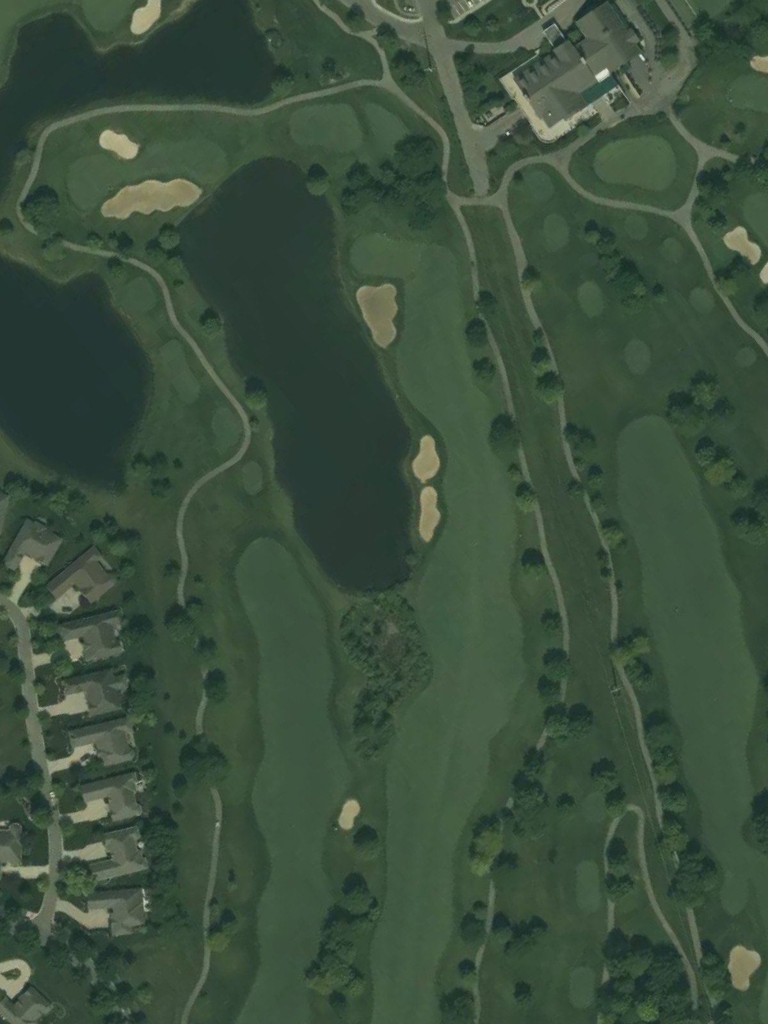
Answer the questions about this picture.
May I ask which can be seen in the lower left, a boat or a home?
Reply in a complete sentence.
What appears in the lower left is a home.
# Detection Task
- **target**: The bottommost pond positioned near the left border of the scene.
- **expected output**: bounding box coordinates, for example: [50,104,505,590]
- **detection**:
[0,261,151,486]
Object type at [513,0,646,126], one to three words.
building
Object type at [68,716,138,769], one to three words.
house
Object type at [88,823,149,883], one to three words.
house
